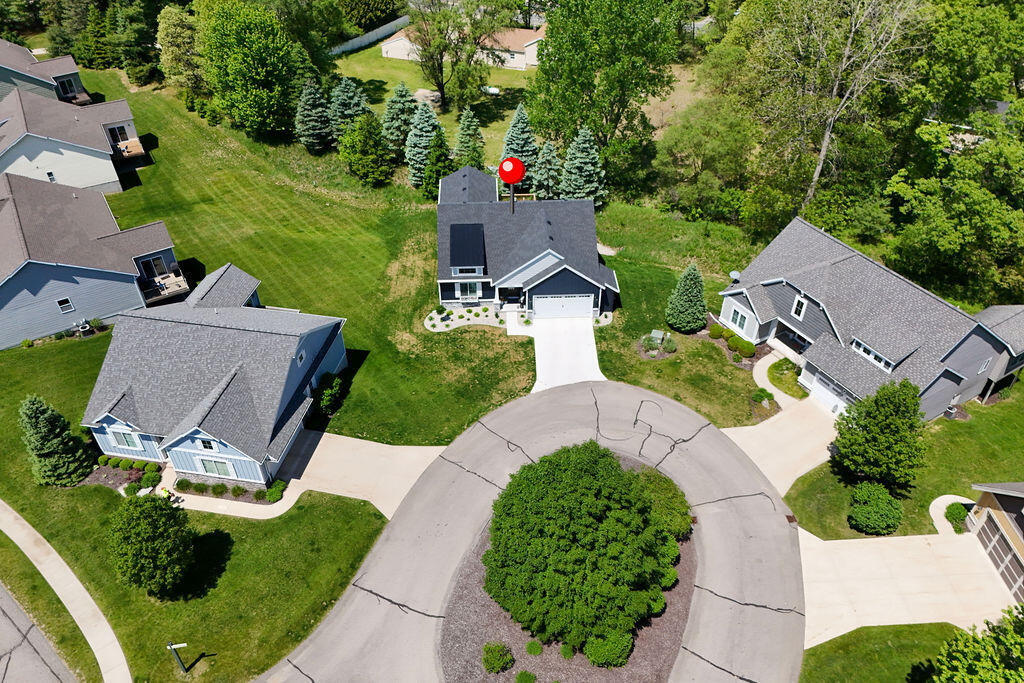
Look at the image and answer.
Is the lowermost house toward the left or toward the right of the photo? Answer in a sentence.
You can find the lowermost house on the right side of the picture.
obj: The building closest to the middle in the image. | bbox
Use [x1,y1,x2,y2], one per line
[434,165,620,321]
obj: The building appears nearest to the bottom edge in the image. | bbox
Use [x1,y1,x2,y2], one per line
[967,485,1024,619]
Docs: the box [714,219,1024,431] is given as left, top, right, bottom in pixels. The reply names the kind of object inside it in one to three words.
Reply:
house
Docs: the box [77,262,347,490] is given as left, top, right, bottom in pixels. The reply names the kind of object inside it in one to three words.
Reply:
house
